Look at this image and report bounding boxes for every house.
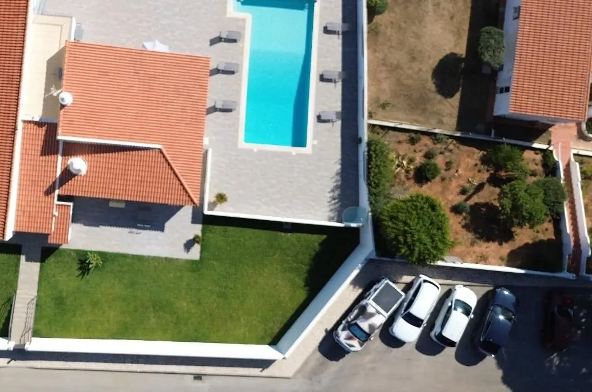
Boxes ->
[0,0,212,245]
[488,0,592,126]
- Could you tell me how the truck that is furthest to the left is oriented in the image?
on a diagonal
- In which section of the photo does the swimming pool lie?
top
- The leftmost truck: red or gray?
gray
